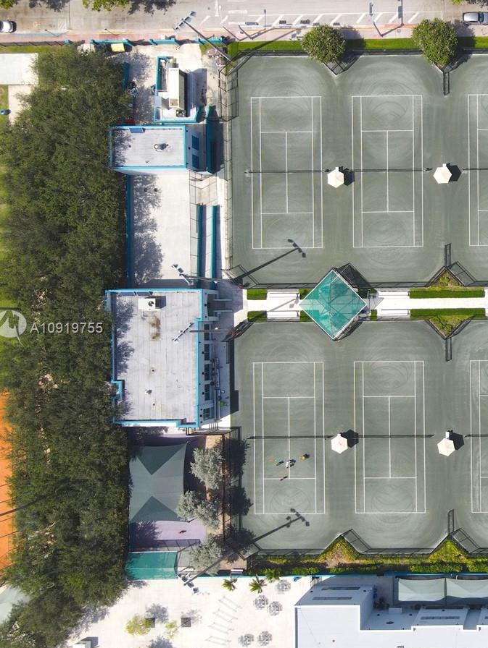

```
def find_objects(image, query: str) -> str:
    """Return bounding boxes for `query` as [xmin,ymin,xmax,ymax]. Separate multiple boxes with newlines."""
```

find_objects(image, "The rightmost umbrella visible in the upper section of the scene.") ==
[434,165,453,183]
